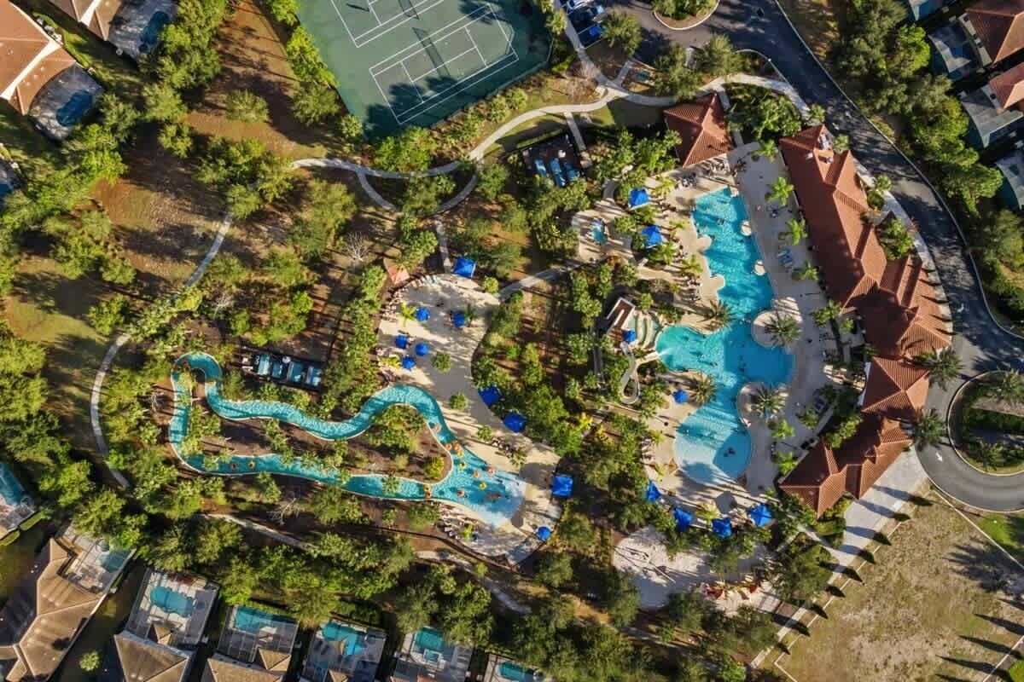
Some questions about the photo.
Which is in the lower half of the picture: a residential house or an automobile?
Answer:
residential house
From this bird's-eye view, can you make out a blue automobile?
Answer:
Yes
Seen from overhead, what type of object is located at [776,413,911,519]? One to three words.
building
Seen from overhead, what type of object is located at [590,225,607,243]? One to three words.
swimming pool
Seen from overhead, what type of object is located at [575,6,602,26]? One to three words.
car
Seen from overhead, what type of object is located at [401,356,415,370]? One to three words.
umbrella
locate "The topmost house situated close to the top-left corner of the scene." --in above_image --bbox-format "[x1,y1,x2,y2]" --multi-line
[49,0,132,42]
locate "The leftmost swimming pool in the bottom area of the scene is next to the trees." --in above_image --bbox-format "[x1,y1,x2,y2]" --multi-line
[0,463,24,504]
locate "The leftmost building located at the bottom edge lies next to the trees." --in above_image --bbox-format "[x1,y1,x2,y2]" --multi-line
[0,539,109,682]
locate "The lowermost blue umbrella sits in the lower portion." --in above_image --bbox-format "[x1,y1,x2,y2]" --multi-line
[536,526,551,540]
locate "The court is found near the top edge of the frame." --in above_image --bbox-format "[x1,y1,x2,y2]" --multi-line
[300,0,552,139]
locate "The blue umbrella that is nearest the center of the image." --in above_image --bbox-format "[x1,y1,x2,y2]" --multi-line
[453,312,466,326]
